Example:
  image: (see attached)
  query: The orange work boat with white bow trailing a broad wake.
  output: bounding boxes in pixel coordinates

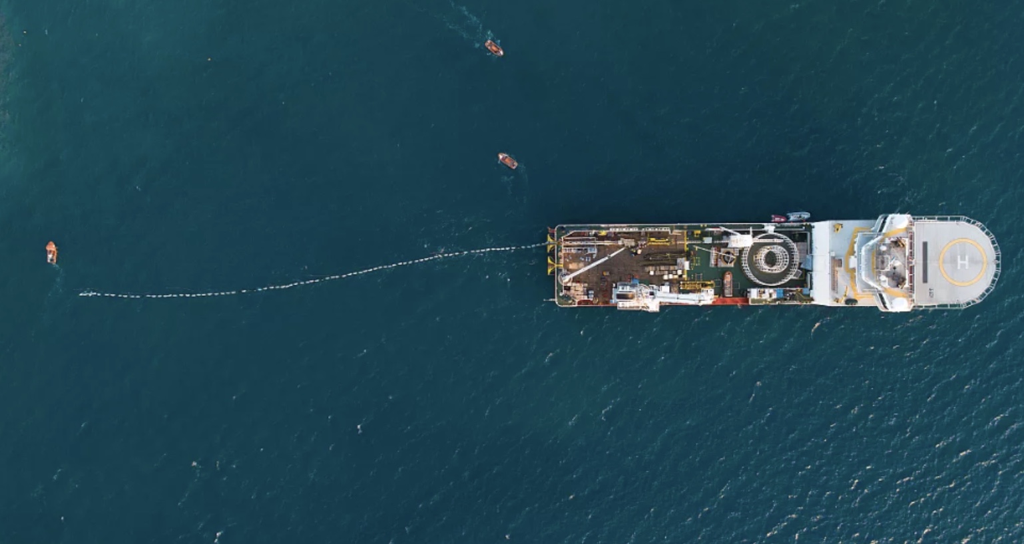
[483,37,504,54]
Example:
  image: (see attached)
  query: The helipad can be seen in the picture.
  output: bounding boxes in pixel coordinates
[911,216,1001,309]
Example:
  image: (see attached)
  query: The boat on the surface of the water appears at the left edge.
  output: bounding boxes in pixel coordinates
[44,241,57,265]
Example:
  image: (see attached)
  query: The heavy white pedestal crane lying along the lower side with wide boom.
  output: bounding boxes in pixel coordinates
[612,281,714,311]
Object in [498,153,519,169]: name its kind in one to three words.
boat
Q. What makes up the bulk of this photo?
water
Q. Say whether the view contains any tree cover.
No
